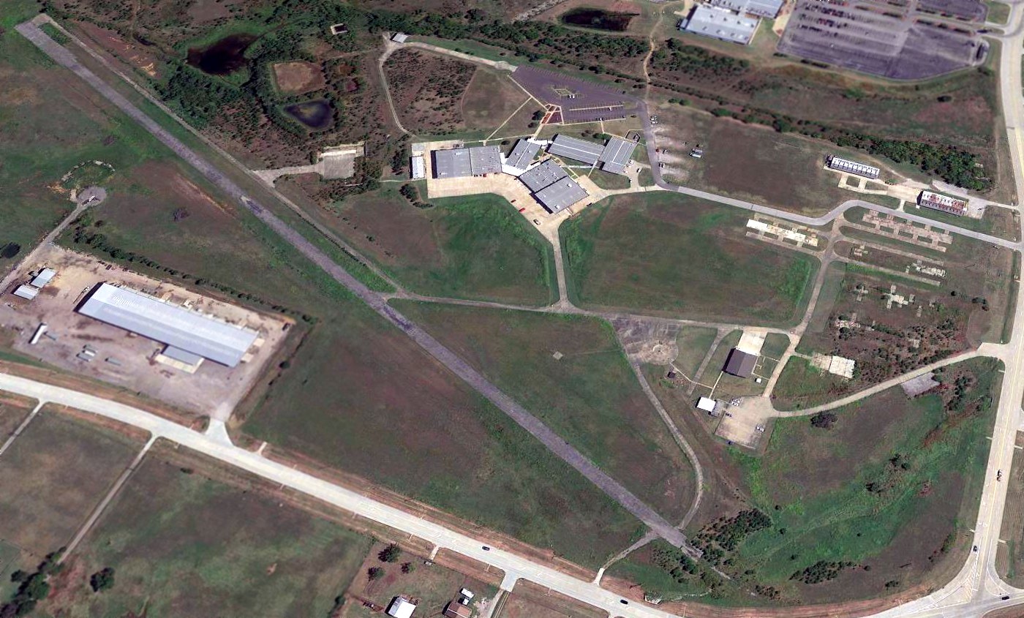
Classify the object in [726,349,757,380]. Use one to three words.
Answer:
house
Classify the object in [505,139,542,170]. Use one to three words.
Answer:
building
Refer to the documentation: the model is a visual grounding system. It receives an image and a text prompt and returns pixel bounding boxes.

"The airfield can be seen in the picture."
[15,13,792,569]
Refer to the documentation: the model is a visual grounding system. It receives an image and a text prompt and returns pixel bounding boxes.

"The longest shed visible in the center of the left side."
[79,282,258,370]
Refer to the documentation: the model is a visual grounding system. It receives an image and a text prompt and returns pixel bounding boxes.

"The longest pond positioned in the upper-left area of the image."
[187,34,257,76]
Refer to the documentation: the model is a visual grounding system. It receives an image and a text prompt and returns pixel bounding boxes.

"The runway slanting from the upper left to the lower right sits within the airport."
[15,22,686,547]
